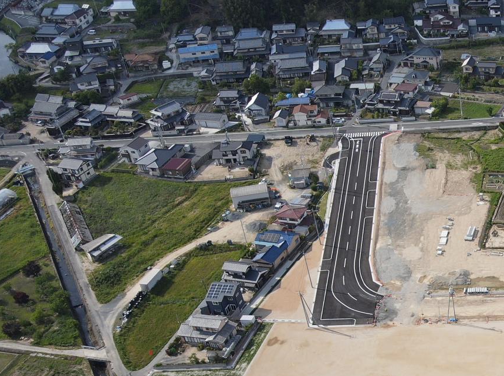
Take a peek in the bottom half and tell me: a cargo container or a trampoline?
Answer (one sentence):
Visible in the bottom half is a cargo container.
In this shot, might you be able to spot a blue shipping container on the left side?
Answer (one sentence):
No, there's no blue shipping container to be seen on the left side.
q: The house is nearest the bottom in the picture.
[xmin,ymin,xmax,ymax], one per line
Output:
[171,309,252,353]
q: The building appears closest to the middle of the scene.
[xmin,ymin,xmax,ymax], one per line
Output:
[227,184,271,211]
